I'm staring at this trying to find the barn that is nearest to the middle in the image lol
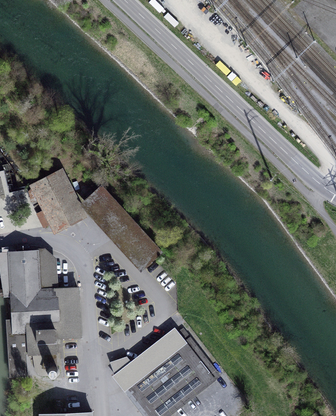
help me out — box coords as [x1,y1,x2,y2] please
[83,186,160,270]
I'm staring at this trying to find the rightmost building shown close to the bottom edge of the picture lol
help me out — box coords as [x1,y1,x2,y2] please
[112,328,217,416]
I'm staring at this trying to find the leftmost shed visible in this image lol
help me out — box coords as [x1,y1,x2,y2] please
[6,320,27,378]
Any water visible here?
Yes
